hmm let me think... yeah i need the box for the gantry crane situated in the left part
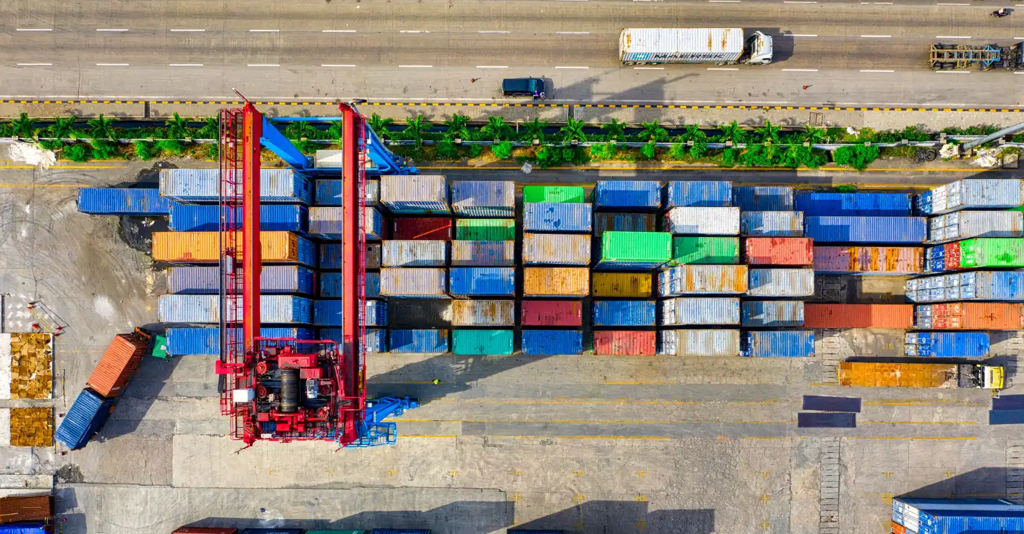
[216,88,429,457]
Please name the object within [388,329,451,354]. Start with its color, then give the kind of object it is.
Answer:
blue shipping container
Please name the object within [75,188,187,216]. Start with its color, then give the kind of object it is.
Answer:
blue shipping container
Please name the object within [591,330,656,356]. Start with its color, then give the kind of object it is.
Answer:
red shipping container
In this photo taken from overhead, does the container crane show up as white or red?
red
